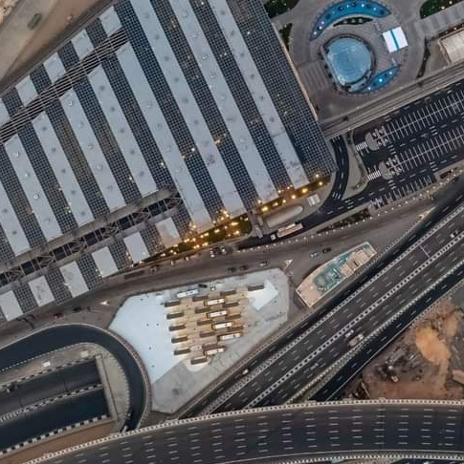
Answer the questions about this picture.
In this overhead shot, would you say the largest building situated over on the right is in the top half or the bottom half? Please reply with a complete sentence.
It is in the top half that the largest building situated over on the right appears.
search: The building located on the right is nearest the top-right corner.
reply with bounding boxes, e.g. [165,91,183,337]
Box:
[325,32,375,86]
